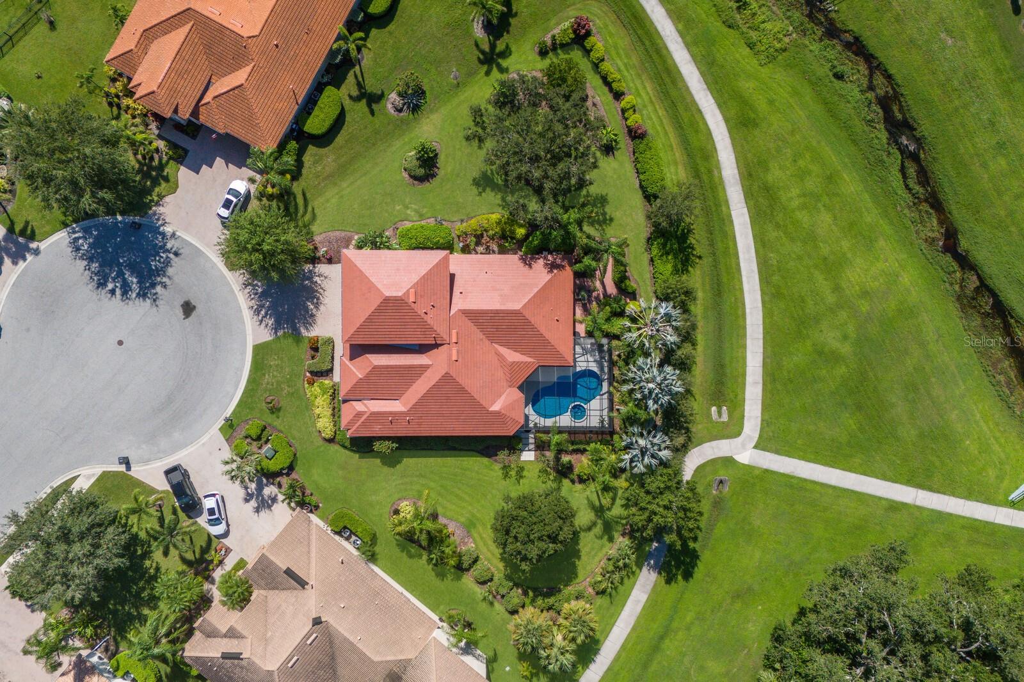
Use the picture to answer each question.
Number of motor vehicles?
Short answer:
3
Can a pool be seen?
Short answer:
Yes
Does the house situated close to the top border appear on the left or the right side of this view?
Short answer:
left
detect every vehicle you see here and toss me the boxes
[204,490,231,536]
[164,460,205,516]
[218,179,251,224]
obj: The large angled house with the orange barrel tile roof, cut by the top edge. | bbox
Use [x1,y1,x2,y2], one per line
[103,0,360,153]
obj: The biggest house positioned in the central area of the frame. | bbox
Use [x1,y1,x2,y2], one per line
[339,250,574,437]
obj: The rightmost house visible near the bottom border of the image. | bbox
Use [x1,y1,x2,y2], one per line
[183,508,491,682]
